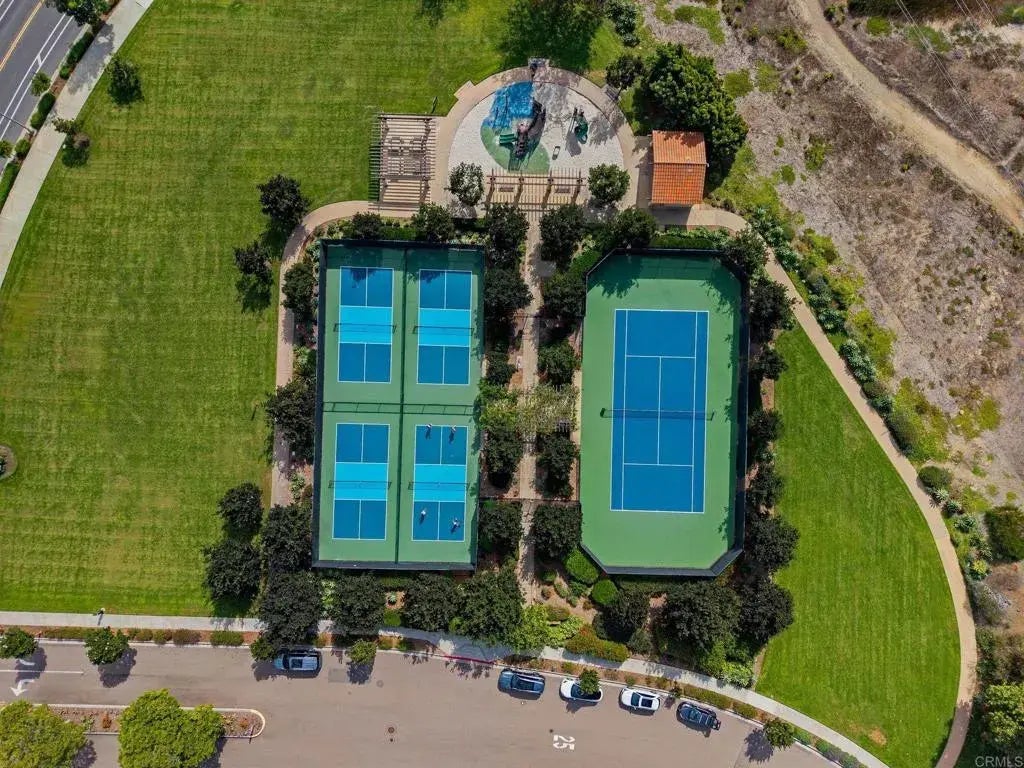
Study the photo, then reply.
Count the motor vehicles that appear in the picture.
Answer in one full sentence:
The photo contains 5 motor vehicles.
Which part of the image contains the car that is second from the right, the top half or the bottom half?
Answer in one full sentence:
The car that is second from the right is in the bottom half of the image.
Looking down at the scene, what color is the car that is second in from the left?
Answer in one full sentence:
From above, the car that is second in from the left appears blue.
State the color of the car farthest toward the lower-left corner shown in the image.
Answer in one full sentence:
In this view, the car farthest toward the lower-left corner is blue.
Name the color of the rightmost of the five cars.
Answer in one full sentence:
The rightmost of the five cars is blue.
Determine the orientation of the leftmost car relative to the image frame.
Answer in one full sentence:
In this picture, the leftmost car lies from side to side.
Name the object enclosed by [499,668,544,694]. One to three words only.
car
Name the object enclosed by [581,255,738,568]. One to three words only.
tennis court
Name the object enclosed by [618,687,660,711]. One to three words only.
car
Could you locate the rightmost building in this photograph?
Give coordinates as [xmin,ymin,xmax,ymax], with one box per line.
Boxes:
[649,131,708,205]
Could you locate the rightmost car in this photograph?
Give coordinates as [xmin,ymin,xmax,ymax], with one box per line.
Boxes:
[676,700,721,728]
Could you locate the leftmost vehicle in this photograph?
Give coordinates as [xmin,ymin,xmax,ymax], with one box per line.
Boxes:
[275,650,321,673]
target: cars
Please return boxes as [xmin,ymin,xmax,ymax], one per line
[618,687,660,711]
[275,650,321,673]
[676,700,721,728]
[499,668,544,694]
[559,677,603,702]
